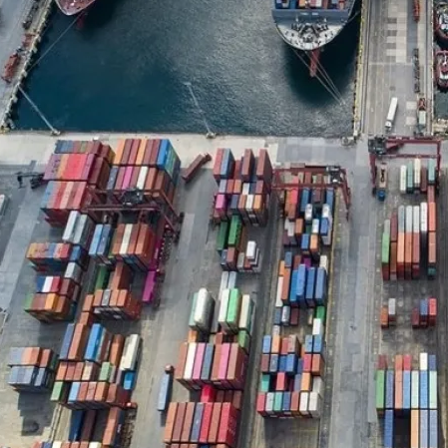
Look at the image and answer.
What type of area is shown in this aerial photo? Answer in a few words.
port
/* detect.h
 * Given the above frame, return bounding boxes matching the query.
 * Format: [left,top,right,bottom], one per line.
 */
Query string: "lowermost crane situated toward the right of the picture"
[268,164,351,215]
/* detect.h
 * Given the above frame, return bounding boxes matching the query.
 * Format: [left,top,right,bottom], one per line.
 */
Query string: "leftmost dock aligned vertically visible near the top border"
[0,0,48,137]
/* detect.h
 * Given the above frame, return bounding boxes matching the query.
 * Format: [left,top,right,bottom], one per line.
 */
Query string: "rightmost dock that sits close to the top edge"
[350,0,437,138]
